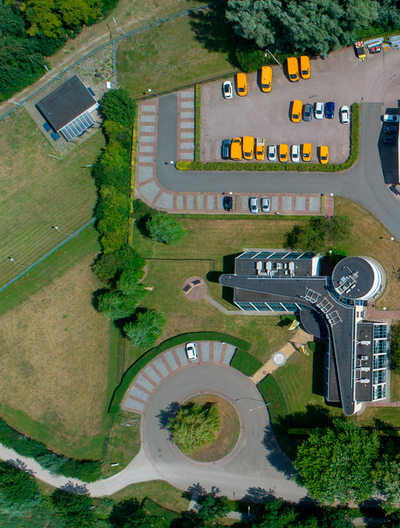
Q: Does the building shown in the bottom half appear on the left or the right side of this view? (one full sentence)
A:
You can find the building shown in the bottom half on the right side of the picture.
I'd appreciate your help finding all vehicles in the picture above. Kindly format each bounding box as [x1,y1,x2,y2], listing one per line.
[303,103,312,122]
[318,145,328,164]
[223,81,233,100]
[315,101,324,119]
[261,197,271,213]
[340,106,349,124]
[287,56,299,83]
[291,99,303,124]
[381,135,397,144]
[268,144,277,162]
[243,135,254,160]
[381,113,398,123]
[224,196,233,211]
[291,144,300,163]
[222,139,231,159]
[186,342,197,361]
[230,138,242,160]
[326,101,335,119]
[250,196,259,213]
[261,65,272,93]
[302,142,312,162]
[236,72,248,97]
[279,143,289,163]
[382,124,398,133]
[300,54,311,80]
[254,137,266,161]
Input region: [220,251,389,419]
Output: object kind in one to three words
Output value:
building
